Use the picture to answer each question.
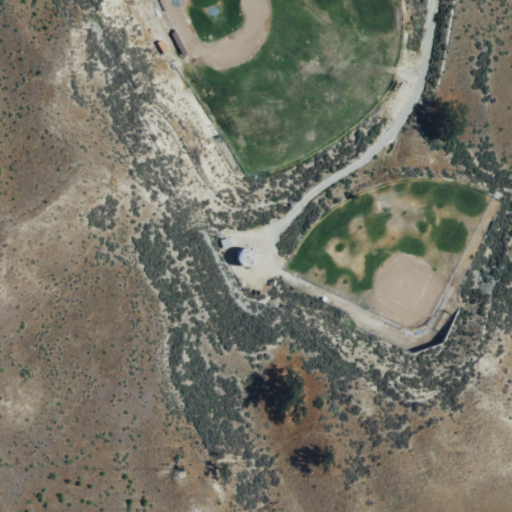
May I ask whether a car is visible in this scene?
No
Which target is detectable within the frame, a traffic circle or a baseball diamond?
baseball diamond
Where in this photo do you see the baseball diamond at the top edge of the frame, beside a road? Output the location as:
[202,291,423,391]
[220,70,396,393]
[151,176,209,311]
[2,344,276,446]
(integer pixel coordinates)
[165,0,403,176]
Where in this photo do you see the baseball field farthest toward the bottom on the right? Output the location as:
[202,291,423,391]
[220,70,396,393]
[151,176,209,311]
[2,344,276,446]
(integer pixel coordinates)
[284,179,494,327]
